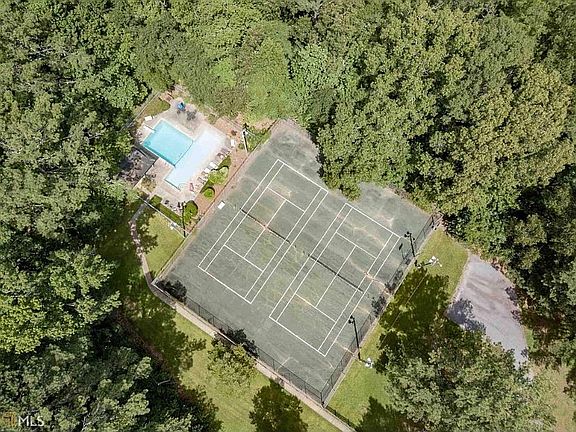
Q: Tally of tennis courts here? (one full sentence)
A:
There are 2 tennis courts in the image.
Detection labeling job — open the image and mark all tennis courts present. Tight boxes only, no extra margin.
[237,176,434,404]
[152,118,348,344]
